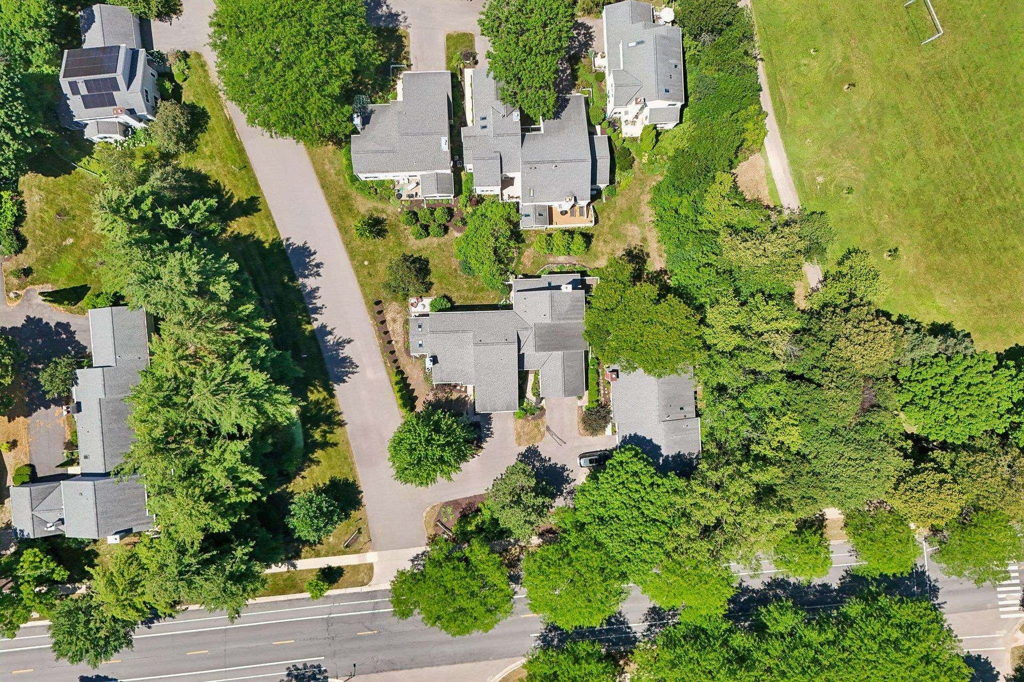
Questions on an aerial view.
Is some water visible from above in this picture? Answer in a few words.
No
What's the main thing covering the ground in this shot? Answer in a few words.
trees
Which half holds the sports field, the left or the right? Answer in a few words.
right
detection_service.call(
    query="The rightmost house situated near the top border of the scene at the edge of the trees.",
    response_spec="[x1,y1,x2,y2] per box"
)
[602,0,684,127]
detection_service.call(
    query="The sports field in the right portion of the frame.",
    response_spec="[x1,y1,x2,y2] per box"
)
[751,0,1024,345]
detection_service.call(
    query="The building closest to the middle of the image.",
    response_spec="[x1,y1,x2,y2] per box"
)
[409,273,586,414]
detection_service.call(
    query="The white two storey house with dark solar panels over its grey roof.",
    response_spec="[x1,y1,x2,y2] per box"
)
[59,3,168,140]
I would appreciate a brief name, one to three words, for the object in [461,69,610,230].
house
